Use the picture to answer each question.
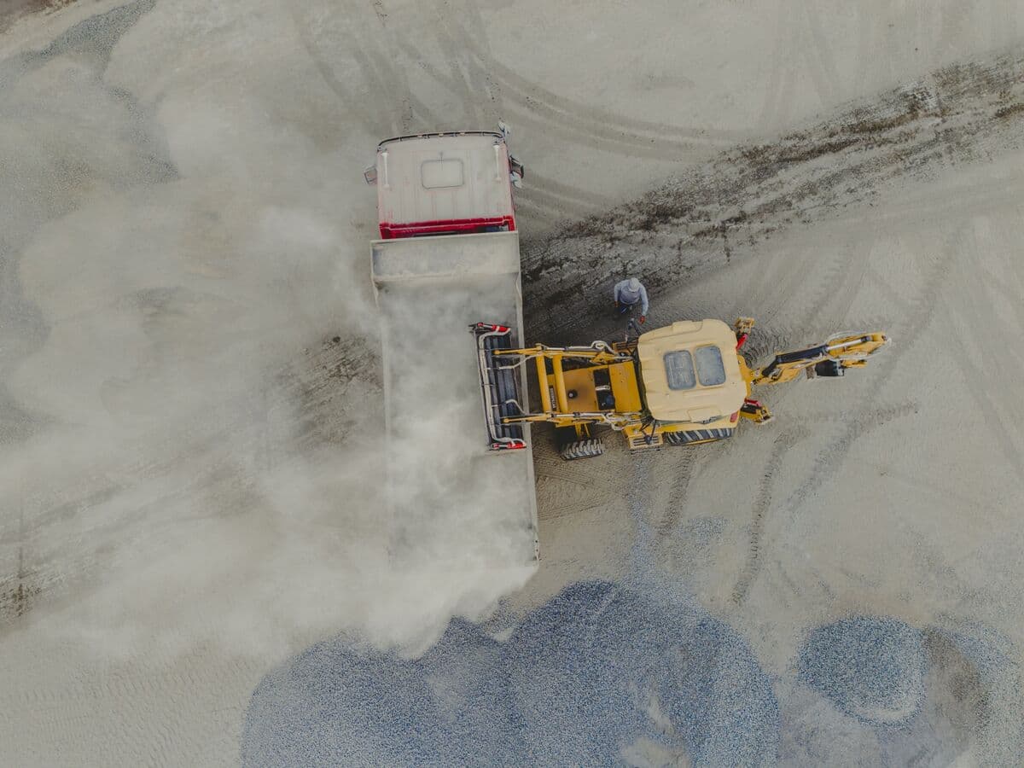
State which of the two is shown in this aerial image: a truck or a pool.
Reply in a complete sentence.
This aerial view contains a truck.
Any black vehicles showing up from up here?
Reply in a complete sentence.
No, the frame has no black vehicle in it.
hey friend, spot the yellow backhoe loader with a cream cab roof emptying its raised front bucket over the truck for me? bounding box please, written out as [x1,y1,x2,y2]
[467,315,892,466]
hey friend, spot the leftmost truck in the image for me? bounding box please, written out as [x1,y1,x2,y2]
[363,119,542,573]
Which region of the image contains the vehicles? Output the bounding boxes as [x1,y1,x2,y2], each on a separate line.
[363,119,542,573]
[467,315,892,466]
